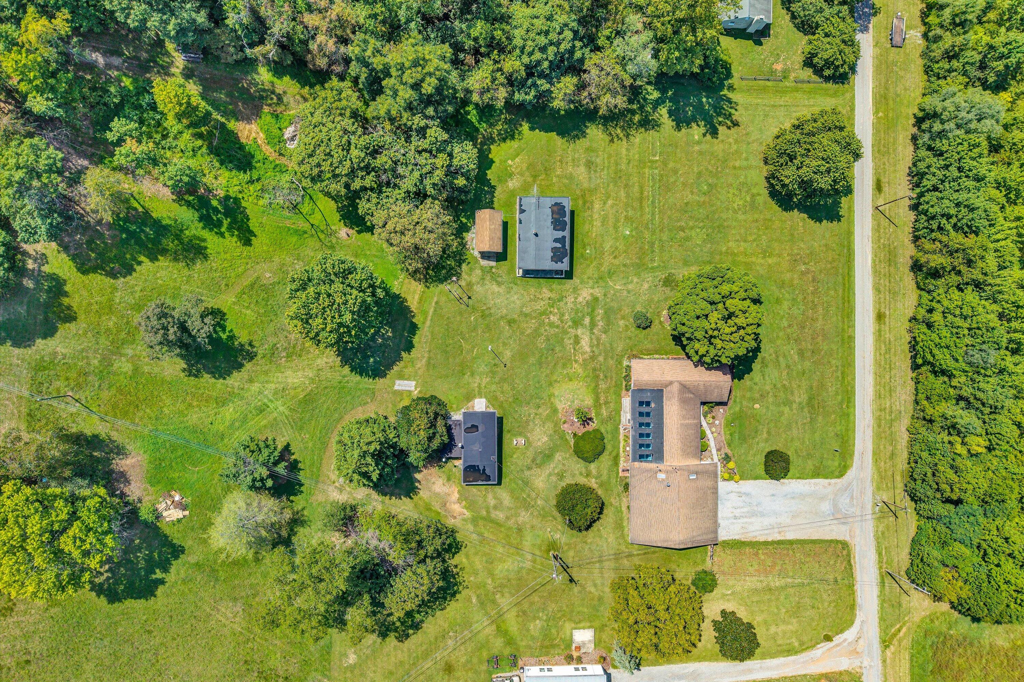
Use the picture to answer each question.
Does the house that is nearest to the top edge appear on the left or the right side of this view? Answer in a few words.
right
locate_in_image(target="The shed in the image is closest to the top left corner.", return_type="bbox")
[475,209,503,266]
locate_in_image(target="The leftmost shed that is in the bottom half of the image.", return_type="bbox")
[444,399,497,484]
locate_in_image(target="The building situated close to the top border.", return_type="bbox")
[719,0,772,40]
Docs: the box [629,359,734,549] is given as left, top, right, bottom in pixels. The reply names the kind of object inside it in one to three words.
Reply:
house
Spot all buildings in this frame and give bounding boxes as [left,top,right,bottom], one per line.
[719,0,772,40]
[475,209,503,266]
[629,359,734,549]
[525,667,604,682]
[517,196,570,277]
[444,399,497,484]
